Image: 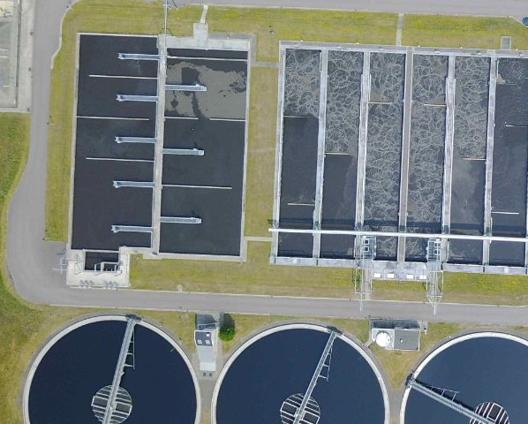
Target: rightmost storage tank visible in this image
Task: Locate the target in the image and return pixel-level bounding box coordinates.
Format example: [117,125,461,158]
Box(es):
[395,326,528,424]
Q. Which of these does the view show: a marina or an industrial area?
industrial area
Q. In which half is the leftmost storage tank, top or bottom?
bottom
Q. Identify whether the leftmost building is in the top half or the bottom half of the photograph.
bottom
